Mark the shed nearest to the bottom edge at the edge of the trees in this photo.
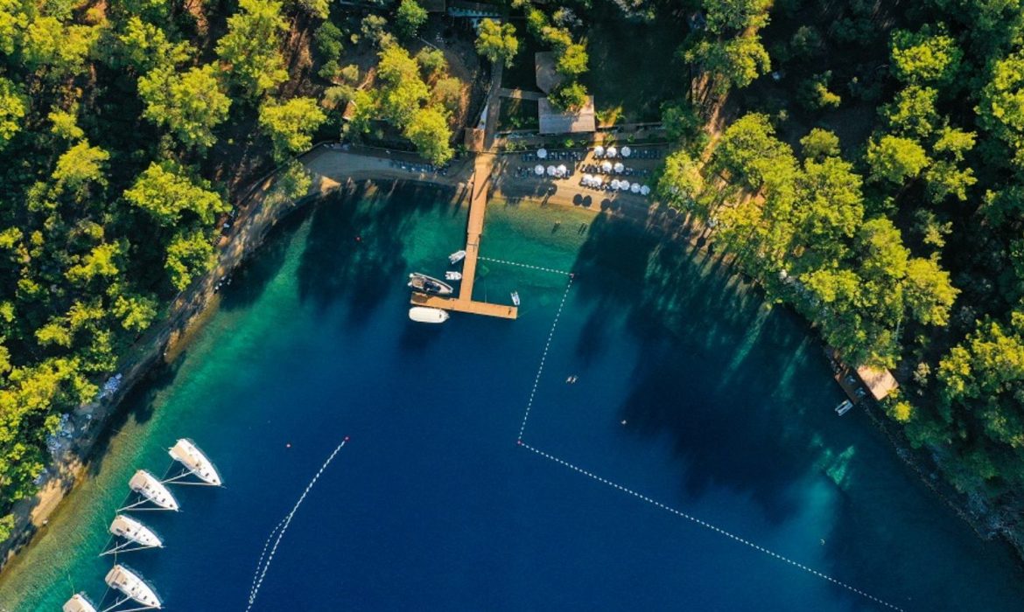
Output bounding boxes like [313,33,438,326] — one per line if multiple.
[850,354,899,400]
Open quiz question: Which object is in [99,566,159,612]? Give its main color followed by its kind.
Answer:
white boat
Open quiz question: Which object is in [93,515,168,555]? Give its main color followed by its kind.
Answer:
white boat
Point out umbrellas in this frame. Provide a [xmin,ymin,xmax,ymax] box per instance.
[592,176,602,186]
[602,161,612,171]
[620,180,630,190]
[639,185,650,195]
[556,165,566,175]
[546,165,556,175]
[582,174,592,184]
[620,147,631,157]
[593,146,604,156]
[534,164,545,175]
[630,183,640,193]
[536,148,547,158]
[607,147,617,157]
[611,179,620,189]
[614,163,624,173]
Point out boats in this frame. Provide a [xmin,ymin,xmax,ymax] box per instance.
[409,306,451,321]
[93,515,168,555]
[112,457,185,516]
[407,274,453,292]
[59,594,98,612]
[448,250,465,264]
[156,429,219,487]
[444,271,462,280]
[99,566,159,612]
[510,290,519,304]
